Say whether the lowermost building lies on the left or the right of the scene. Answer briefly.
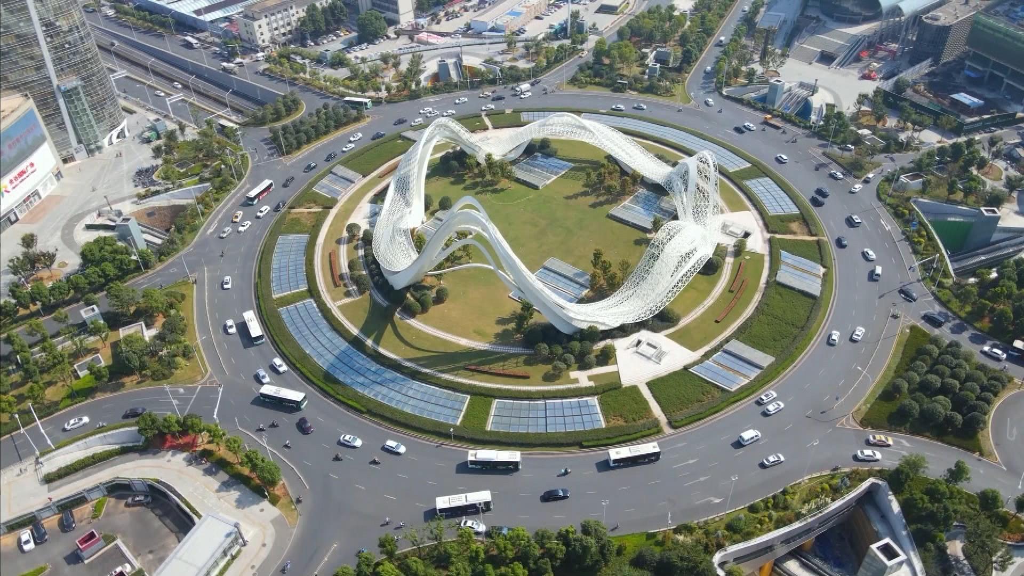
left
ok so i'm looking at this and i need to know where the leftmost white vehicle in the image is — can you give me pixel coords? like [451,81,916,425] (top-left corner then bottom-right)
[20,529,35,550]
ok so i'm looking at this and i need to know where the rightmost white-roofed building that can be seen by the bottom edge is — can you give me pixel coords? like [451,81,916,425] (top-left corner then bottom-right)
[158,513,246,576]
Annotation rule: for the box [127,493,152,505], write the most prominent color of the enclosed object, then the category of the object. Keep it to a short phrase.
gray vehicle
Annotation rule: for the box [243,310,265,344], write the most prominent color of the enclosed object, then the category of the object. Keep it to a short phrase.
white bus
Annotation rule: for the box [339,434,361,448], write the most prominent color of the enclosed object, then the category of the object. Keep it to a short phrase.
white car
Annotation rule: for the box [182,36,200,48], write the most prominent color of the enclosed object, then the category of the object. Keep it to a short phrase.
white vehicle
